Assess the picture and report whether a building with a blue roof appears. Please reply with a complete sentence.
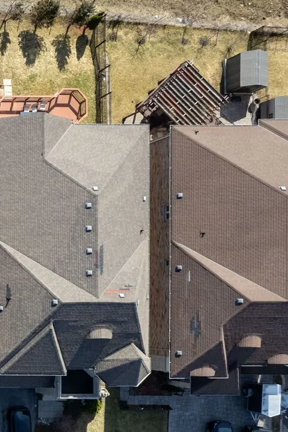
No, no building with a blue roof can be seen from above.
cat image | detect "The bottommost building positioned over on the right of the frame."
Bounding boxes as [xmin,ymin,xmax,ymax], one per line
[151,117,288,395]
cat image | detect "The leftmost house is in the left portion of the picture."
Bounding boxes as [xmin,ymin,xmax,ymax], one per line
[0,113,152,399]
